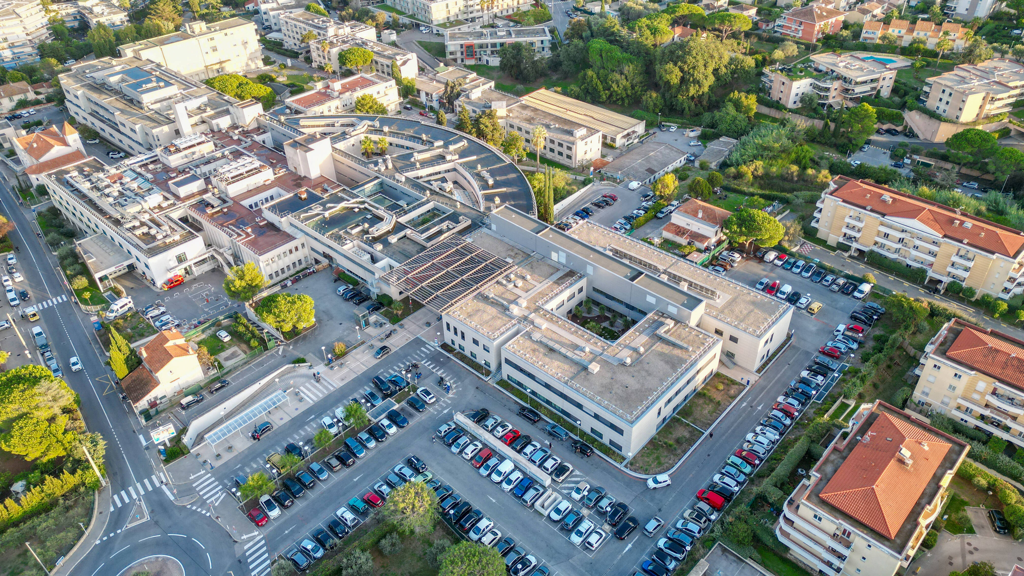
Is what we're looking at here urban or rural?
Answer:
urban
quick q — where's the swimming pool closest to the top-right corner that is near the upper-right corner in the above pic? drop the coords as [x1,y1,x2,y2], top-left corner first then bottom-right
[841,48,915,67]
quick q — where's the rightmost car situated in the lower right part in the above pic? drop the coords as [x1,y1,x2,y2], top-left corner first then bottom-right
[985,509,1007,536]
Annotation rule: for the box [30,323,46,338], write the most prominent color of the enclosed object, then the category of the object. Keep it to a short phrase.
white vehicle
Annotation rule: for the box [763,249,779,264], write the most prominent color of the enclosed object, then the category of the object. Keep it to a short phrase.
white vehicle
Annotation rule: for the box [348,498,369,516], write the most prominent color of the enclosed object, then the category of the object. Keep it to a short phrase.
blue car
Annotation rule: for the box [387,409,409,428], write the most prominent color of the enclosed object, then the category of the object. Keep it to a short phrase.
blue car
